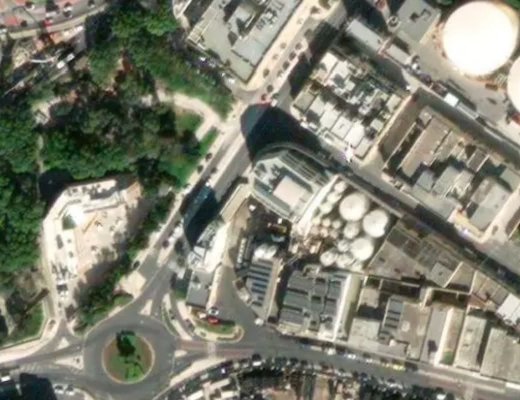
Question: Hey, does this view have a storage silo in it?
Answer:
Yes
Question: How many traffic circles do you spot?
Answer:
1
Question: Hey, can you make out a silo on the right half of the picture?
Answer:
Yes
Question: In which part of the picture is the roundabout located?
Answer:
bottom left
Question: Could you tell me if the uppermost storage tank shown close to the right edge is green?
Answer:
No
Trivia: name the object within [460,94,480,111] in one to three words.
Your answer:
vehicle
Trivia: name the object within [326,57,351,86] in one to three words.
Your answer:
house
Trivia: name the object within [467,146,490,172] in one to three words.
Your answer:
building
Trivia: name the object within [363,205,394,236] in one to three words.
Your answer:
silo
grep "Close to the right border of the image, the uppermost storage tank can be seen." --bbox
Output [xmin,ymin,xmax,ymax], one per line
[442,0,519,76]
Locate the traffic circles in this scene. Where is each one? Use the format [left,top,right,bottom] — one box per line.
[102,331,153,382]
